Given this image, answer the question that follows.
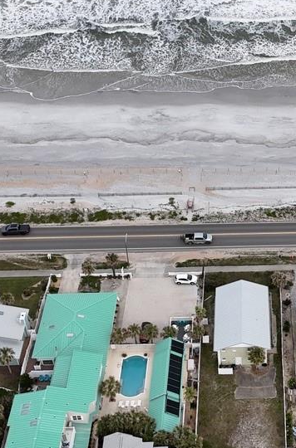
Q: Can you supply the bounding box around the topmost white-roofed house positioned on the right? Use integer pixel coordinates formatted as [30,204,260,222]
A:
[214,281,274,362]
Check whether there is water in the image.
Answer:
Yes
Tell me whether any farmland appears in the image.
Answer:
No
